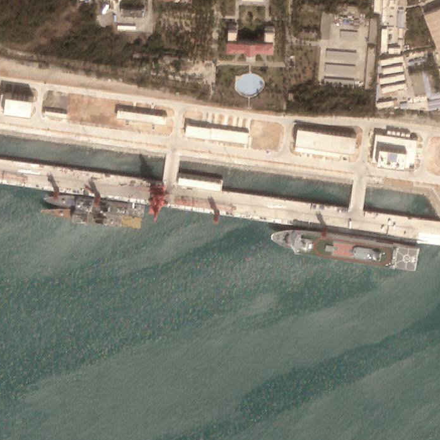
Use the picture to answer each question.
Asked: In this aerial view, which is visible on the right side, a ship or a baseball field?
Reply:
ship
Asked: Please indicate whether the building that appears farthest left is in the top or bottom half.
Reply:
top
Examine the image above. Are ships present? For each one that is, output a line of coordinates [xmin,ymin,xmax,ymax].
[271,221,420,270]
[44,193,144,217]
[42,207,143,228]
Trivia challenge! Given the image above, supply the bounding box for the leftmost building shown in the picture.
[3,93,34,118]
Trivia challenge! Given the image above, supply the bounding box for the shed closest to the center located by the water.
[179,174,223,191]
